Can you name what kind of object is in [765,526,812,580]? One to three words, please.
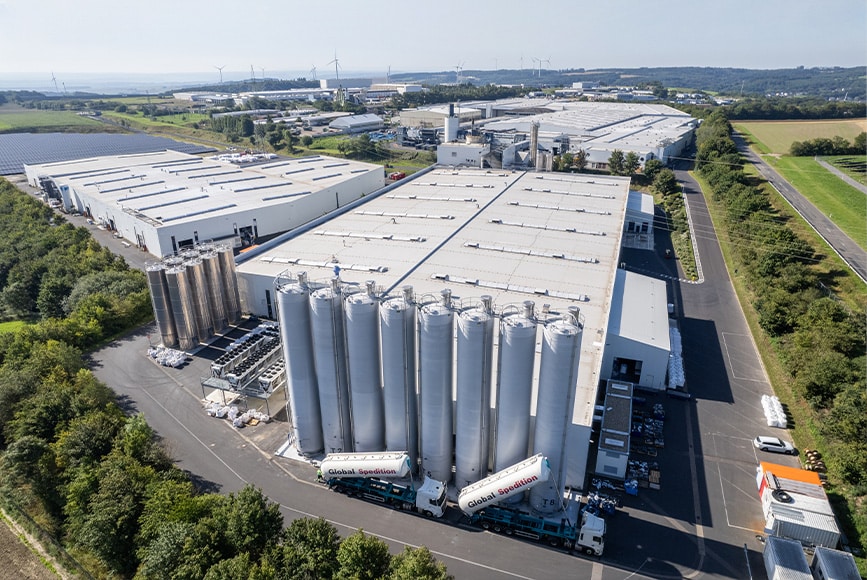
building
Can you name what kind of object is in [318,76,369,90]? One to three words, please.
building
